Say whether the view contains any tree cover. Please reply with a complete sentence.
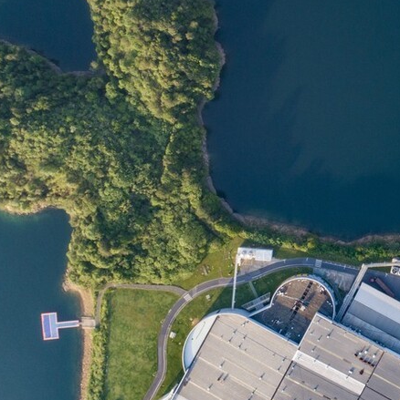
Yes, there is tree cover in the image.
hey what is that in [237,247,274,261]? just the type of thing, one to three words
building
